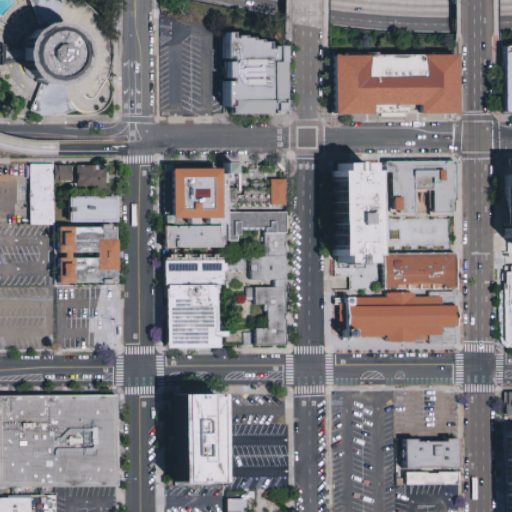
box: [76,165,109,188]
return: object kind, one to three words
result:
house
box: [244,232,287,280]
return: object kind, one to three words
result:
building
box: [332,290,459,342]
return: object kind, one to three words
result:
building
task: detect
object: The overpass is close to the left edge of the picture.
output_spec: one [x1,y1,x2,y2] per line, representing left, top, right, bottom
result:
[0,132,60,156]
